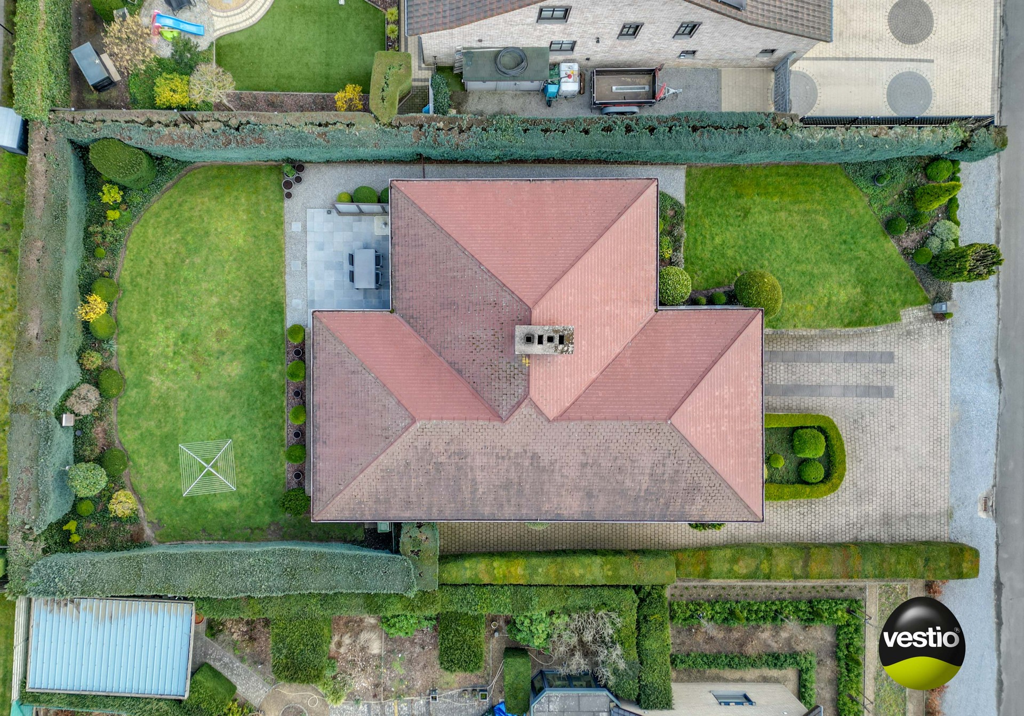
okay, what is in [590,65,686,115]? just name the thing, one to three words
trailer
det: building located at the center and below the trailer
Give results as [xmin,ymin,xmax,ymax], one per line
[312,179,764,522]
